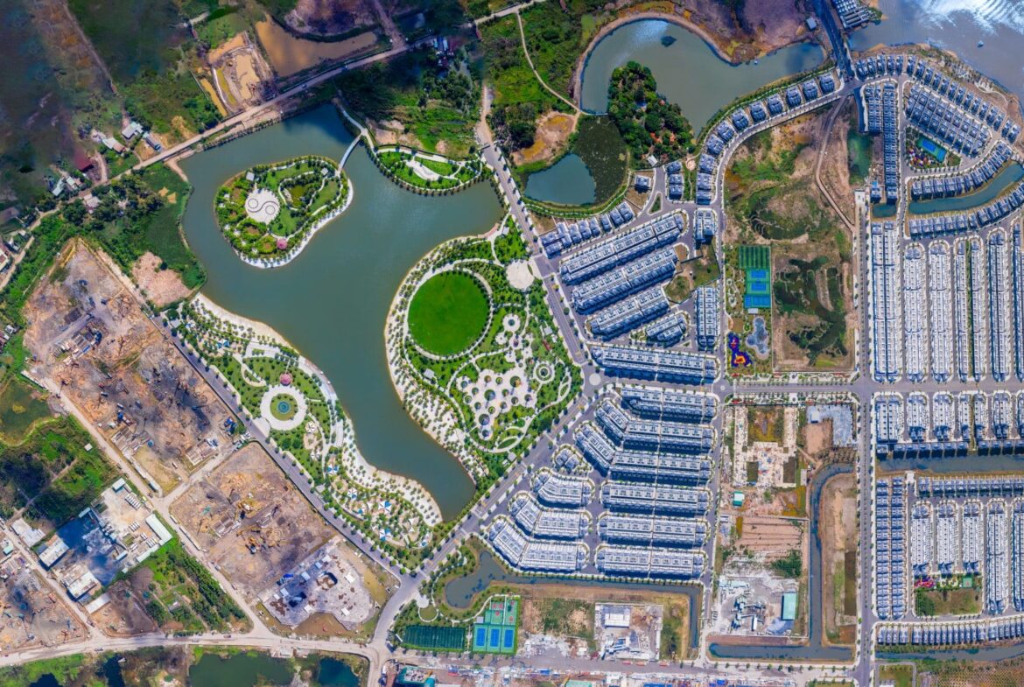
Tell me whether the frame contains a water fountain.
Yes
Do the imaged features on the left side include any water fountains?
Yes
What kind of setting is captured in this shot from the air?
residential area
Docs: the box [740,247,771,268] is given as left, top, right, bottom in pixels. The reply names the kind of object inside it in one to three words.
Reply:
sports field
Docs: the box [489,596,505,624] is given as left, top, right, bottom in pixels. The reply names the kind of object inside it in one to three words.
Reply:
basketball court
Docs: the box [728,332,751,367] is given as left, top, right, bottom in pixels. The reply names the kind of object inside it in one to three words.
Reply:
playground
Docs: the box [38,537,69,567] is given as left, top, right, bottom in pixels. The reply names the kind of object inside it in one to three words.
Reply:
building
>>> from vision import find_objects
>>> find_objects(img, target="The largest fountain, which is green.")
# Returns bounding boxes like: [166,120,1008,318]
[270,395,297,421]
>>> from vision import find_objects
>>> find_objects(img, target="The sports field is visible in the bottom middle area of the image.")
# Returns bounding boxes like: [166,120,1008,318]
[402,625,465,649]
